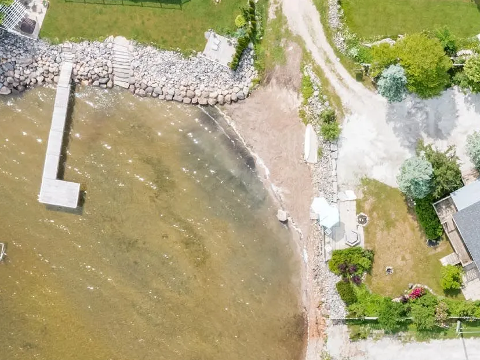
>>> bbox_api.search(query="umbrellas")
[318,208,340,230]
[310,198,333,218]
